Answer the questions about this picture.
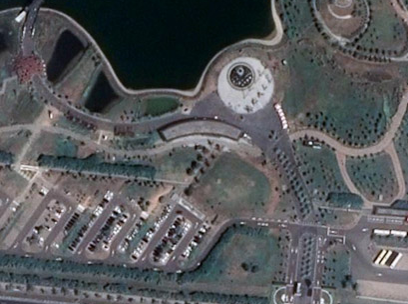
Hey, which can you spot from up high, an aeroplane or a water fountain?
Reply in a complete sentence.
There is a water fountain in the scene.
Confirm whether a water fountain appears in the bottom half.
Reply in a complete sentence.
No, I can find no water fountain in the bottom half.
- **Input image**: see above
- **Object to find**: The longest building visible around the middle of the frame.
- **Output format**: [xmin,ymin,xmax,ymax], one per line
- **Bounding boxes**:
[159,118,244,140]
